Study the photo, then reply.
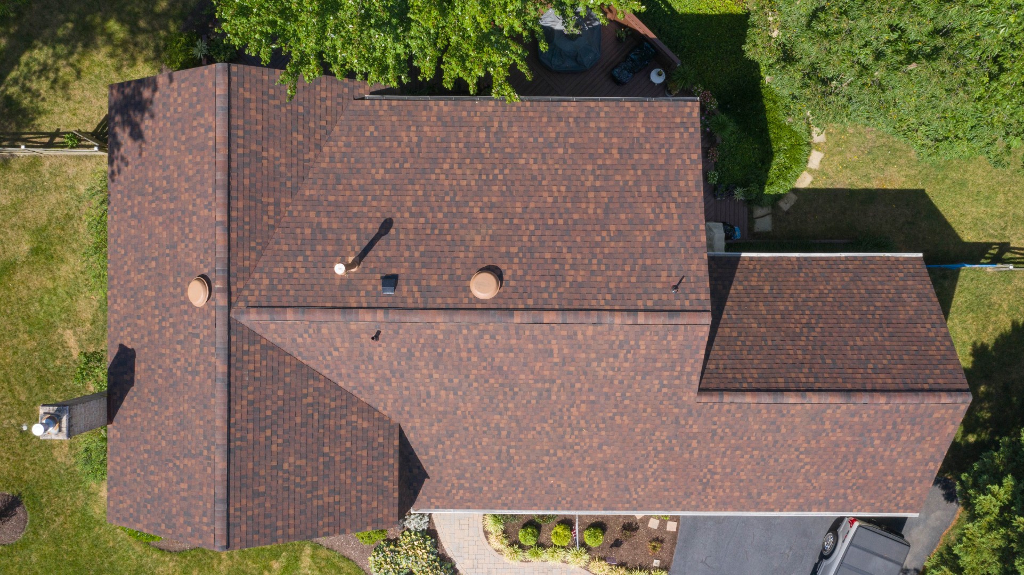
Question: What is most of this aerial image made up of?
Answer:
buildings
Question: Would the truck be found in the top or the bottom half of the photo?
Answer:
bottom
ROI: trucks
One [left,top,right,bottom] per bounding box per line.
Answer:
[809,517,911,575]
